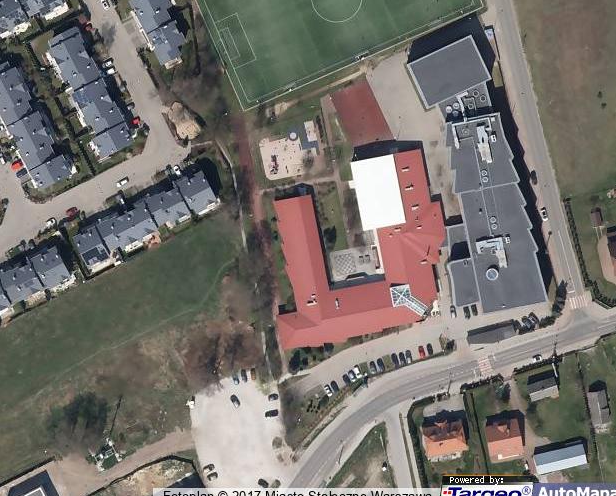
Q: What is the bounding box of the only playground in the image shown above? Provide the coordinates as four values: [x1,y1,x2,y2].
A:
[260,120,319,180]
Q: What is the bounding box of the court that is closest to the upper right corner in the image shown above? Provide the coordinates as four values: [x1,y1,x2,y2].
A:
[331,80,396,158]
